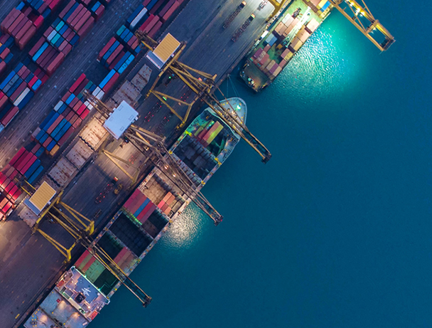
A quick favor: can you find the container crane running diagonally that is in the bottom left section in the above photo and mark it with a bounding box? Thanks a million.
[10,168,155,310]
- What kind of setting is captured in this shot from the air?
port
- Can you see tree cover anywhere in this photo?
No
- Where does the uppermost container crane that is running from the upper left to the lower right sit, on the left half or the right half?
right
